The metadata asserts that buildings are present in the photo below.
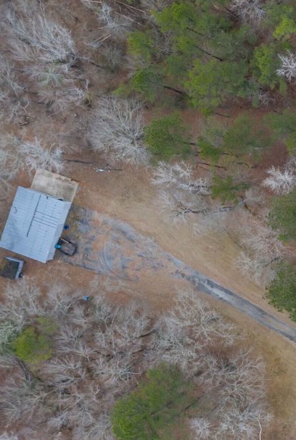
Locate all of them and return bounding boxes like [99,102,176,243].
[0,187,78,263]
[0,257,26,279]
